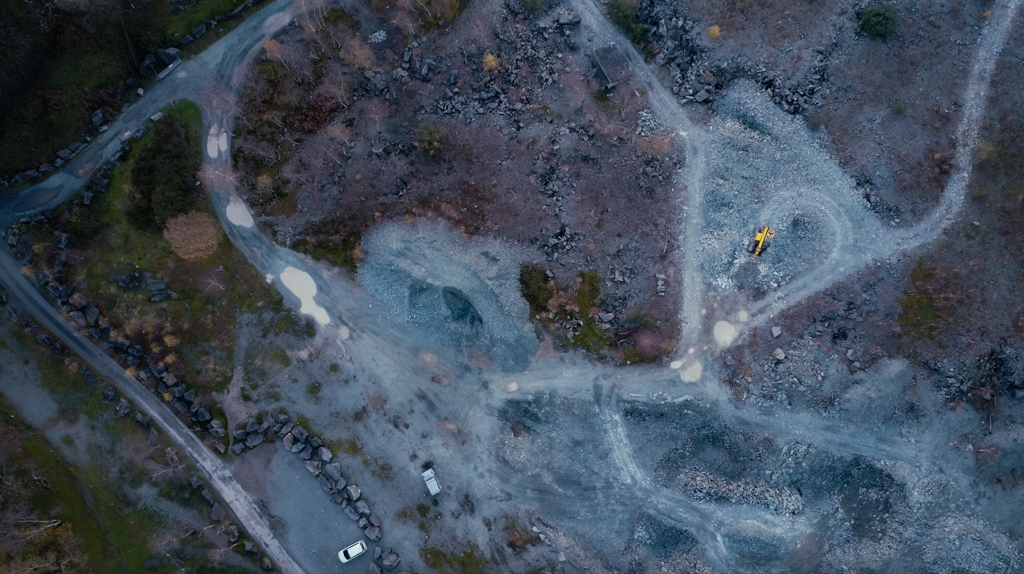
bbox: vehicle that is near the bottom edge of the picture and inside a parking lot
[338,540,368,563]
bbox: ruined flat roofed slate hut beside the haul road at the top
[591,46,633,88]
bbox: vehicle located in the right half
[744,225,776,265]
